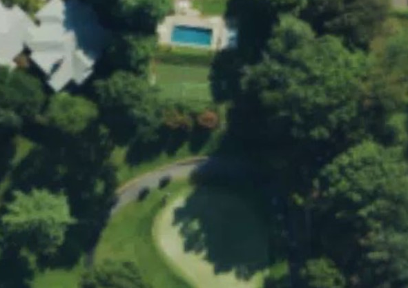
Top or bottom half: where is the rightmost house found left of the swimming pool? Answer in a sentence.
You can find the rightmost house found left of the swimming pool in the top half.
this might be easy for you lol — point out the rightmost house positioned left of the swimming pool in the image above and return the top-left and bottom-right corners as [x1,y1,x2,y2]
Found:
[30,0,106,92]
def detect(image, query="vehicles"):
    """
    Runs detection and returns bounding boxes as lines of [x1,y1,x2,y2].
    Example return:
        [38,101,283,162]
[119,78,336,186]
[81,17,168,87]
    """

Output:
[139,186,150,196]
[160,177,172,186]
